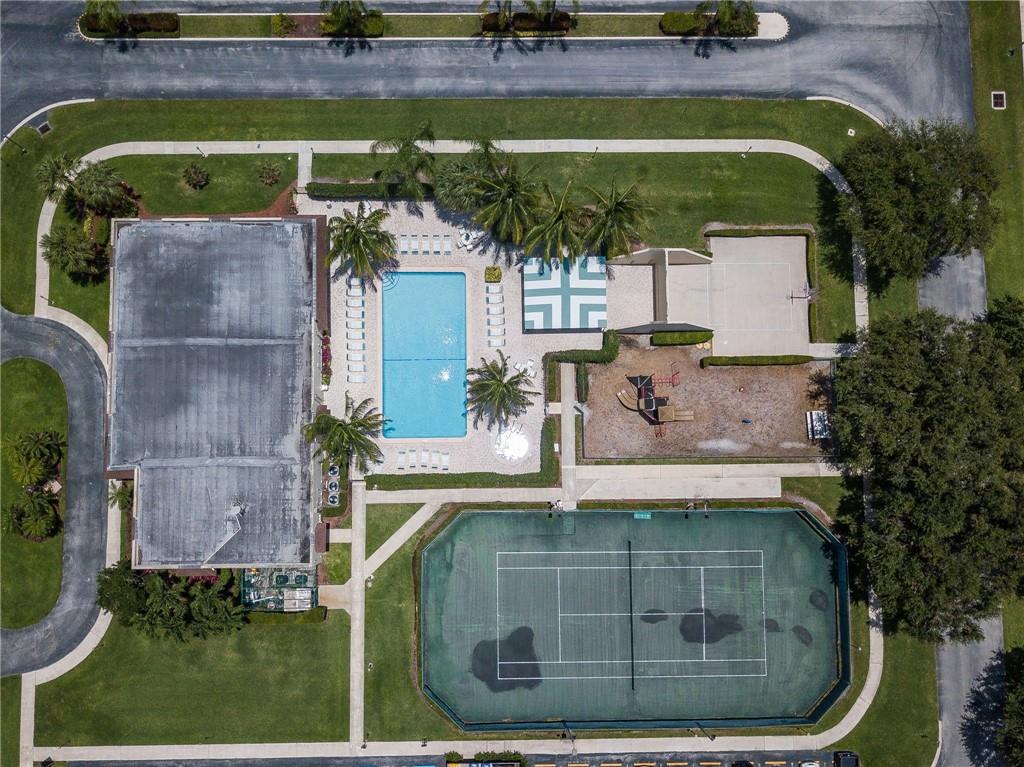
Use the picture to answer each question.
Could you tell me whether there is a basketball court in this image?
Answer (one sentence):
Yes, you can see a basketball court in this photo.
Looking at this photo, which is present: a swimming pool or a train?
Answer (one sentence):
Looking from above, you can make out a swimming pool.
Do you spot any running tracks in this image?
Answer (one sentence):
No, there's no running track here.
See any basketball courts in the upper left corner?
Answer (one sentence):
No, in the upper left corner there is no basketball court.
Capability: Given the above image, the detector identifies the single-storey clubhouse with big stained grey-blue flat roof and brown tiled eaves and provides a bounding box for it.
[104,215,330,576]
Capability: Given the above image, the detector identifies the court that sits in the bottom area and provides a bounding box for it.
[425,507,840,718]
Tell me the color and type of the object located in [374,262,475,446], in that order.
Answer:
blue swimming pool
